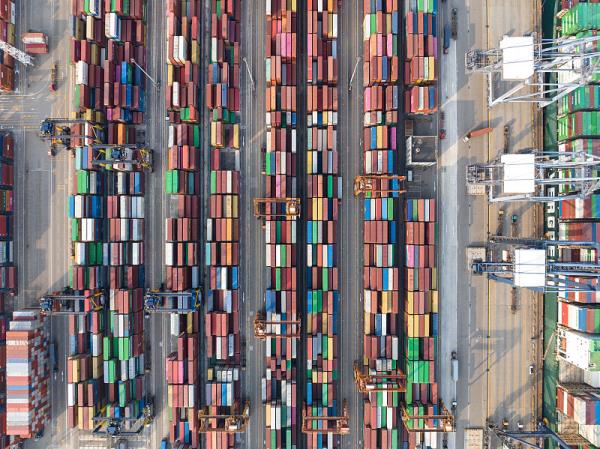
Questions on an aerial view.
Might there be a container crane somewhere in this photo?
Yes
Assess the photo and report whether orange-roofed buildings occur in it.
No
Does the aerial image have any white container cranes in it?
Yes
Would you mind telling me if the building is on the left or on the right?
right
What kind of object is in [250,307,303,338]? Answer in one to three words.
container crane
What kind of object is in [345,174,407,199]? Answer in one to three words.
container crane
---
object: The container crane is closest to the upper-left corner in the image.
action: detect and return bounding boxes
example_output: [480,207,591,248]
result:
[38,118,110,149]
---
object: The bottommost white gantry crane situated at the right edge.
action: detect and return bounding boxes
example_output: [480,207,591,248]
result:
[468,234,600,286]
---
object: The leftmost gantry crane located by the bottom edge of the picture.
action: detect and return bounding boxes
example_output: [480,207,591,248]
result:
[91,395,155,436]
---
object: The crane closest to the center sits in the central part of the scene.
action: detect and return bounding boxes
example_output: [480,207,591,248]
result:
[250,197,303,221]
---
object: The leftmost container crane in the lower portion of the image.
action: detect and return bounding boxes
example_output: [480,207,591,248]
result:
[38,285,109,314]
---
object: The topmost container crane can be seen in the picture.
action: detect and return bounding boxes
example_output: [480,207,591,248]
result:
[468,32,600,116]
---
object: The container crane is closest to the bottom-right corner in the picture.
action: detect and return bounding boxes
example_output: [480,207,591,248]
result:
[488,417,572,449]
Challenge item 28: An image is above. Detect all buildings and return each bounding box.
[409,137,437,165]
